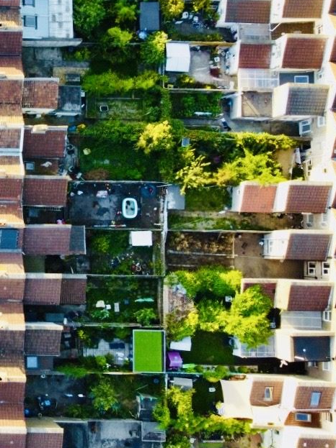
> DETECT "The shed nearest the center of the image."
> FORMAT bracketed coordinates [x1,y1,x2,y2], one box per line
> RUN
[165,184,186,209]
